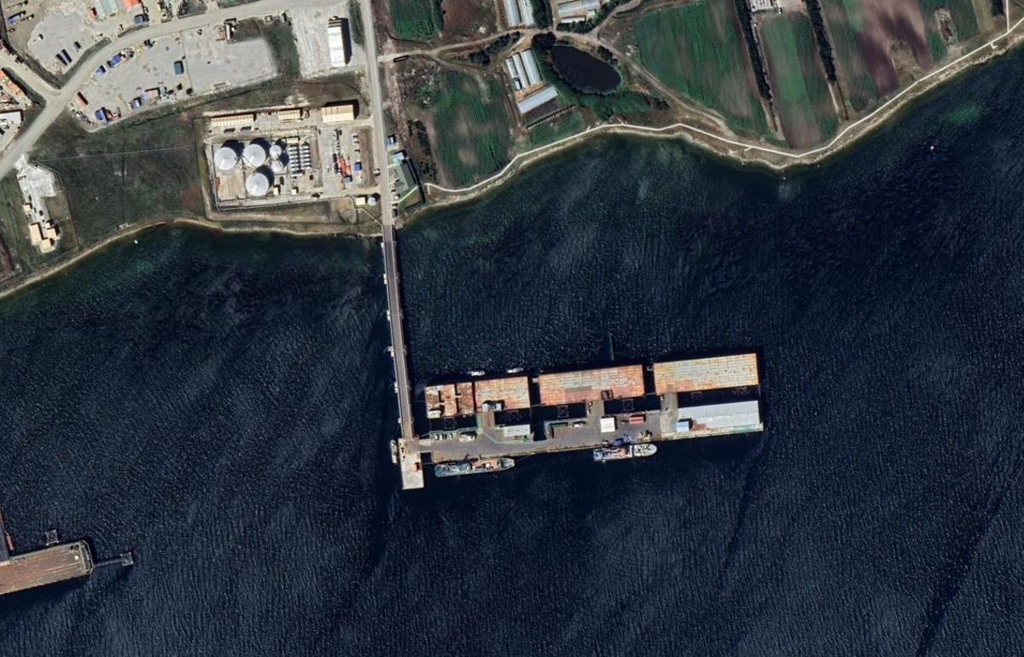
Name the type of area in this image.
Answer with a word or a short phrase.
port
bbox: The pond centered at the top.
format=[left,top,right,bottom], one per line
[550,44,623,93]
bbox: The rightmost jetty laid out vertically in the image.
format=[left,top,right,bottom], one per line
[382,224,416,439]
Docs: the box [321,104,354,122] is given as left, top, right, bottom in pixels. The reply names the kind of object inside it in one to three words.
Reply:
building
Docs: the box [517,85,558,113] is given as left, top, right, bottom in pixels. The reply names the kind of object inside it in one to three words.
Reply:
barn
